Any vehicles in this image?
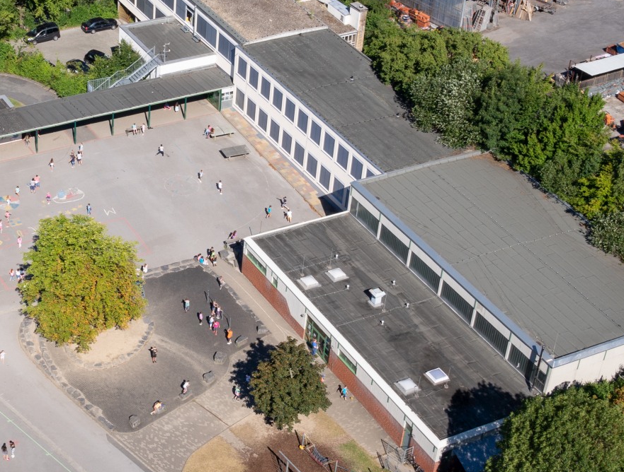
Yes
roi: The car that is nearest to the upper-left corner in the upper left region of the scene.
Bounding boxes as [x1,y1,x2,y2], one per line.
[23,21,64,44]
